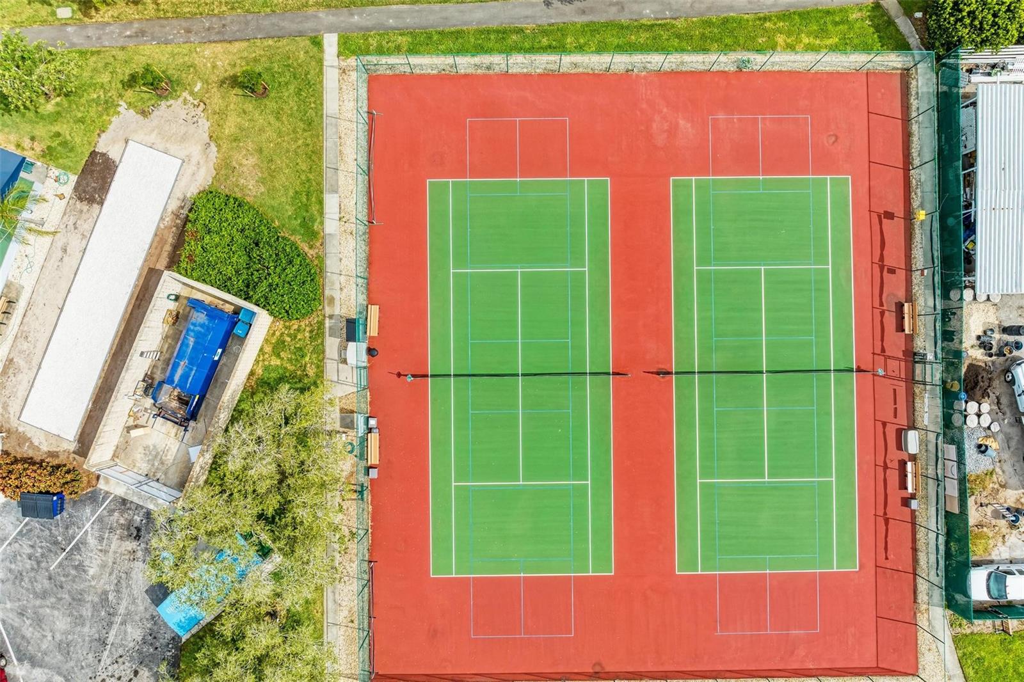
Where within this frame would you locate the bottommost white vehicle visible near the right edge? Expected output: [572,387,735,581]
[973,562,1024,606]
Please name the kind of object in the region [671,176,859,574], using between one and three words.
tennis court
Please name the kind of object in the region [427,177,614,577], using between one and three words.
tennis court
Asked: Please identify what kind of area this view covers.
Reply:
sports ground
